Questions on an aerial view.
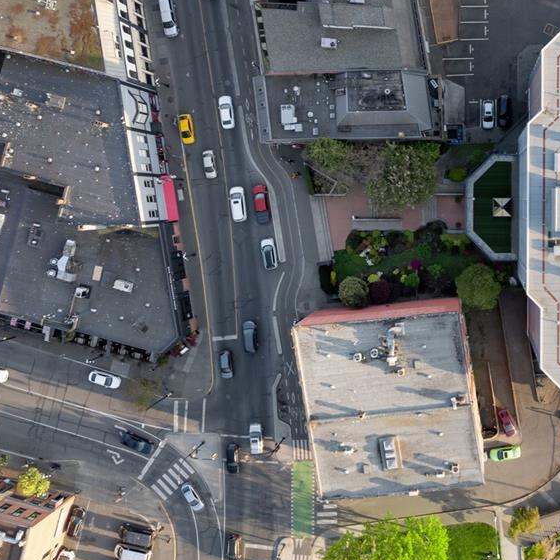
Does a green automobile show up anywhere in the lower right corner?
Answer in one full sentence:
Yes, you'll find a green automobile in the lower right corner.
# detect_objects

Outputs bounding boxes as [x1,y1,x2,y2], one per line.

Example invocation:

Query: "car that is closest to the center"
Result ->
[260,237,280,271]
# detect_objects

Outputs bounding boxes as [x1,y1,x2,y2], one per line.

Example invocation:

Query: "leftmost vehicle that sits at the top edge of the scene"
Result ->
[158,0,181,40]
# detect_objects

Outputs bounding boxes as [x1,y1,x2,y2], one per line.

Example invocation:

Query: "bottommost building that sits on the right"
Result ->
[292,299,487,497]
